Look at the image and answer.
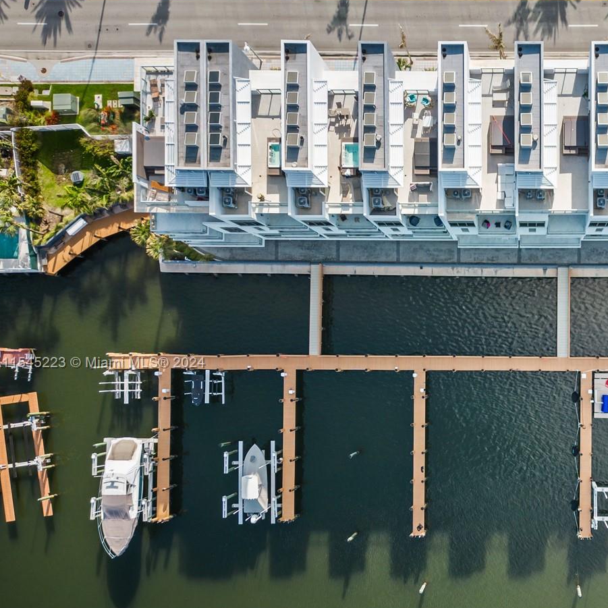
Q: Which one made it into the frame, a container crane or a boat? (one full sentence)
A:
Of the two, only a boat appears.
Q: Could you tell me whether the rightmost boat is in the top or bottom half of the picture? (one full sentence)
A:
The rightmost boat is in the bottom half of the image.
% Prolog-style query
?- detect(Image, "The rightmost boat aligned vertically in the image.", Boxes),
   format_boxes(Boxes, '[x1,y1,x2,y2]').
[241,444,269,525]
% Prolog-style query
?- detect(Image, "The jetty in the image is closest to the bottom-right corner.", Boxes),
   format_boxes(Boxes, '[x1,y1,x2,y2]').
[576,372,596,541]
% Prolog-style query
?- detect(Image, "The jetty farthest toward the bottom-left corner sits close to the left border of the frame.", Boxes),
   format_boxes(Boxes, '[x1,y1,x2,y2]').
[0,392,76,522]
